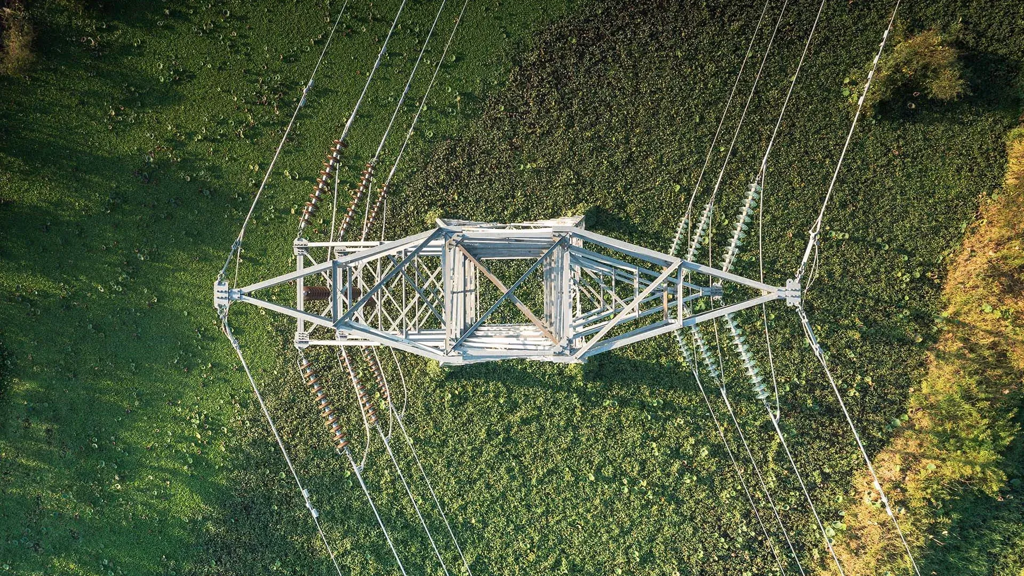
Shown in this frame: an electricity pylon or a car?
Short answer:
electricity pylon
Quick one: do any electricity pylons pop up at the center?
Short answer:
Yes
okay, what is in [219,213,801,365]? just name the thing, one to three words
pylon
